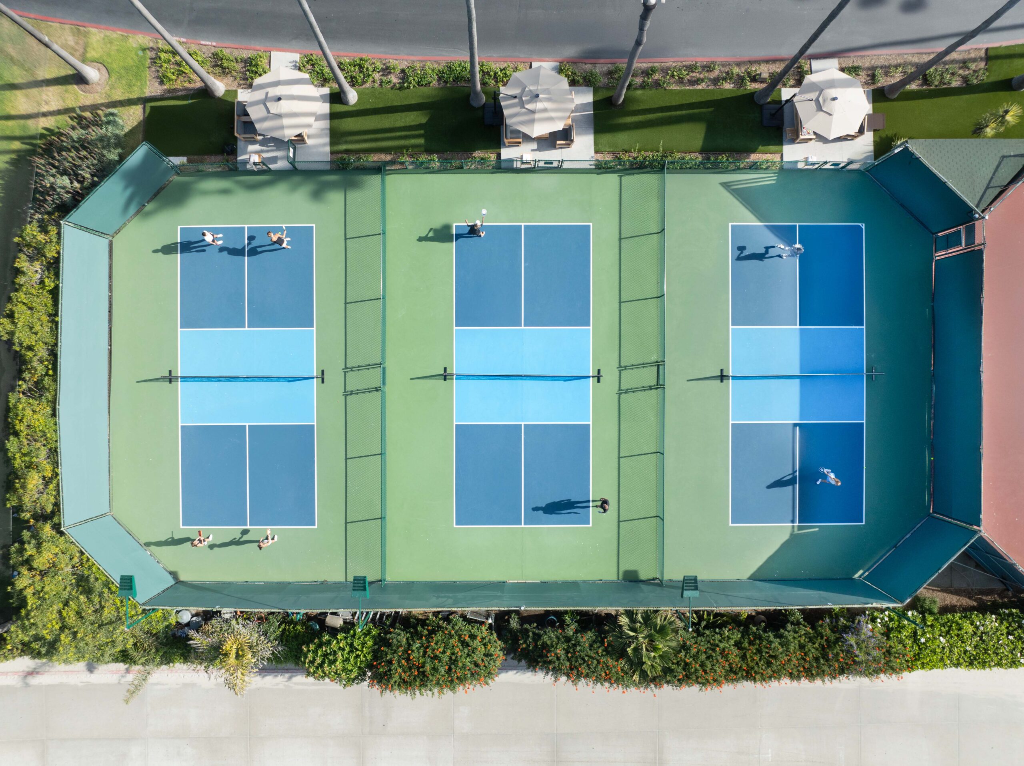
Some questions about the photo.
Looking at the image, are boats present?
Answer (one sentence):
No, the scene contains no boat.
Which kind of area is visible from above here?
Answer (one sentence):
The area seen from above is a sports ground.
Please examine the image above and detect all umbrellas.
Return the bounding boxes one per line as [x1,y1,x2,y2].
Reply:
[485,61,576,140]
[238,61,321,141]
[765,64,871,143]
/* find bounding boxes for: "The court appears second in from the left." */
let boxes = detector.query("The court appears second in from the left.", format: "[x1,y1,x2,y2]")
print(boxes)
[386,169,660,581]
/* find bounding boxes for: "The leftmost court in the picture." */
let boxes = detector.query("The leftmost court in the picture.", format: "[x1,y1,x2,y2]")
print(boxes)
[111,169,386,582]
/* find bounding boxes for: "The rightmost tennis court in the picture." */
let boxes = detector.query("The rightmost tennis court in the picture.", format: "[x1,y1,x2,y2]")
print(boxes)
[932,172,1024,579]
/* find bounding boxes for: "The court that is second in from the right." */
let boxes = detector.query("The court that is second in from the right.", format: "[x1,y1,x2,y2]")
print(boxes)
[658,169,933,581]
